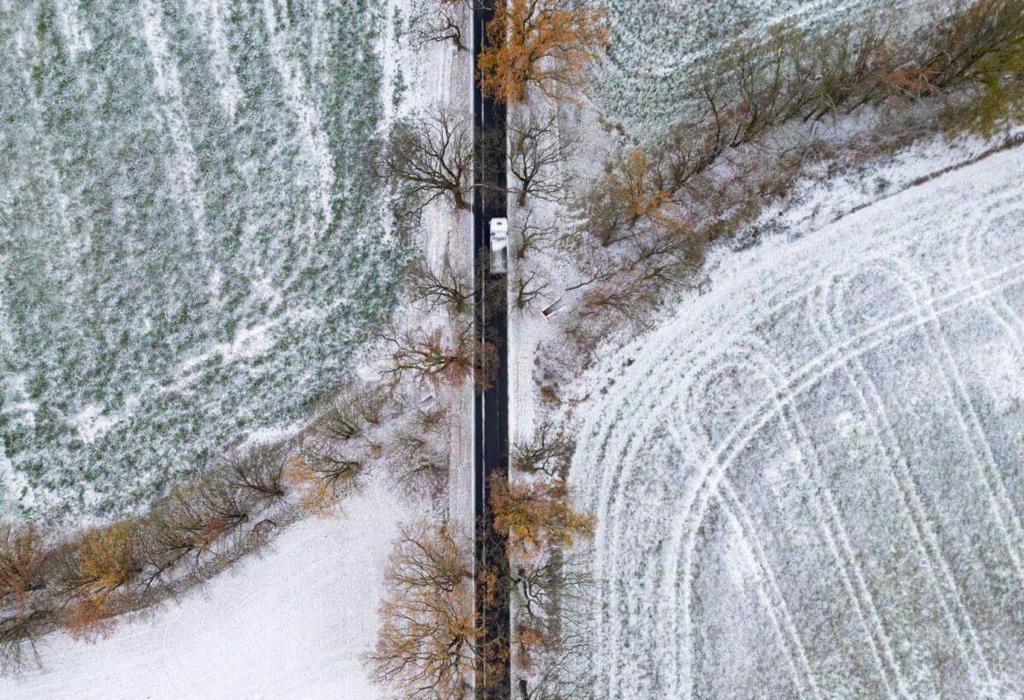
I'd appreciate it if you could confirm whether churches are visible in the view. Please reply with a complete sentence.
No, no church can be seen from above.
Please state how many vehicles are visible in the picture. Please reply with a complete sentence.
There is 1 vehicle in the image.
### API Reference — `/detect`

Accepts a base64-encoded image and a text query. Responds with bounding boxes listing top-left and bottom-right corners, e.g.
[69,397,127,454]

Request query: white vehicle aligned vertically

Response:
[488,217,510,275]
